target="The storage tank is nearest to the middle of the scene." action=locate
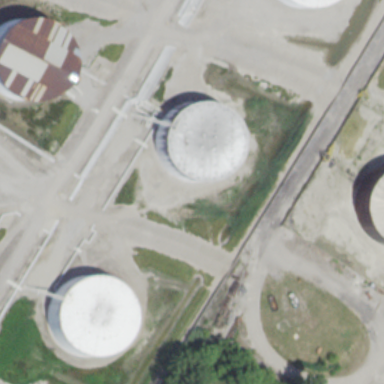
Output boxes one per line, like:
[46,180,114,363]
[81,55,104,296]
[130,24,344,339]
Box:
[133,97,249,186]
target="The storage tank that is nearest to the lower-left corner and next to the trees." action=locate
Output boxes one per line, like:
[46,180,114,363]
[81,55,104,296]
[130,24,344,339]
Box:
[23,272,142,362]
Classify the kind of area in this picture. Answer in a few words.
industrial area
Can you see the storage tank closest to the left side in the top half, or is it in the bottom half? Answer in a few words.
top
